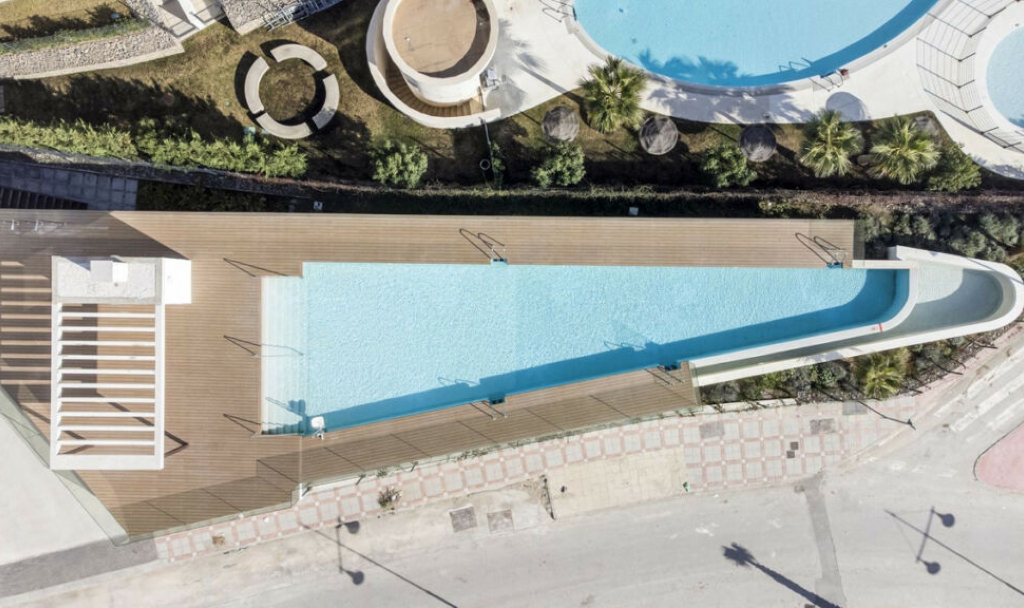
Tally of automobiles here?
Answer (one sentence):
There are no automobiles in the image.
